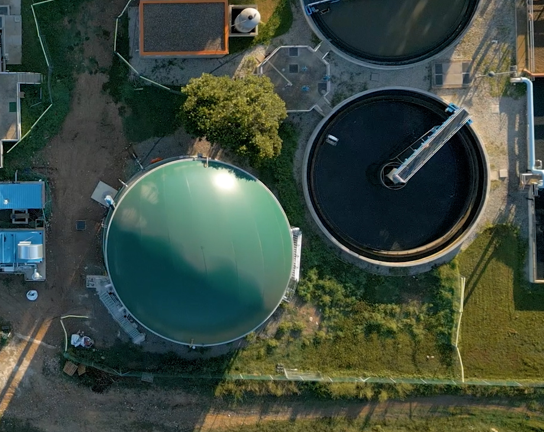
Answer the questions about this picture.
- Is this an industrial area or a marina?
industrial area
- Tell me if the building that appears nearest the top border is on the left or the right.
left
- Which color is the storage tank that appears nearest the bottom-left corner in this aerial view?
green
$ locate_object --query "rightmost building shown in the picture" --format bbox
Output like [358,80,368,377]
[136,0,229,59]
